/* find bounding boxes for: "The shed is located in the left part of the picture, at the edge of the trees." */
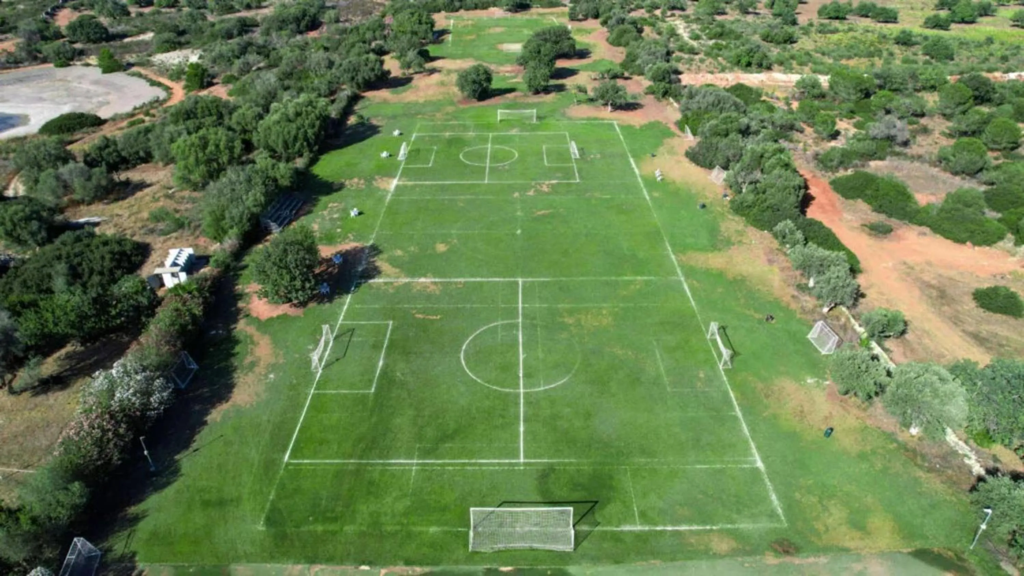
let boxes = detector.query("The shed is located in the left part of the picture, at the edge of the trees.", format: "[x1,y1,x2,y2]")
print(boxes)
[154,245,197,288]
